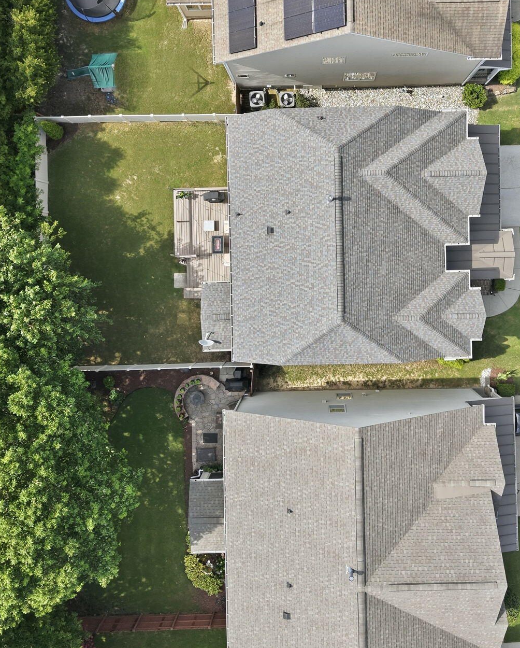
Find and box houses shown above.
[167,0,514,90]
[173,107,517,366]
[189,386,520,648]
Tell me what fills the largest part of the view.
buildings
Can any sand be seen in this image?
No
